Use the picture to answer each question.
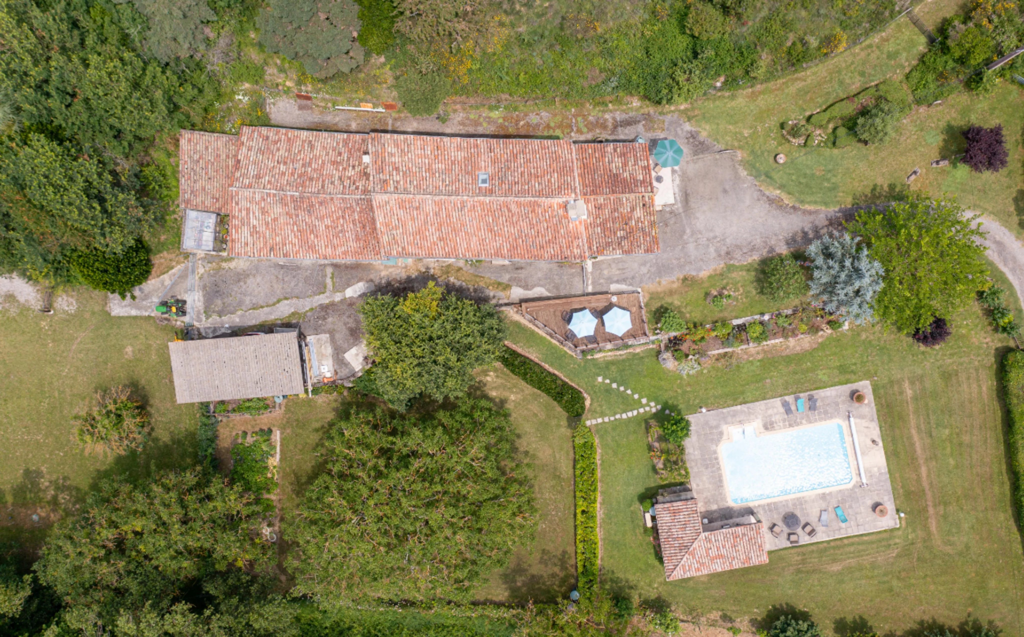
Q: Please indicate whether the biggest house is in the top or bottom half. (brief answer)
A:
top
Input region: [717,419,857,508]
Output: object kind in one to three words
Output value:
swimming pool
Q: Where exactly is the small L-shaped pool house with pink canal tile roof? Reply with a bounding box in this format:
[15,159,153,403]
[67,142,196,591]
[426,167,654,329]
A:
[653,494,769,582]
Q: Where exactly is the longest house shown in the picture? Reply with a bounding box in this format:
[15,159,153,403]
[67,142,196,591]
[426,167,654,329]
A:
[179,124,661,266]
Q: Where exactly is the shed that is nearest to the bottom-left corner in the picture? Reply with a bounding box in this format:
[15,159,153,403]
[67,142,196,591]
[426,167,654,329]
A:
[168,332,309,404]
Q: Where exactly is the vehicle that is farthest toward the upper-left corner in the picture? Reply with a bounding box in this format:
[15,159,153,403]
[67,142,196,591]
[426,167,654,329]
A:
[154,299,187,319]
